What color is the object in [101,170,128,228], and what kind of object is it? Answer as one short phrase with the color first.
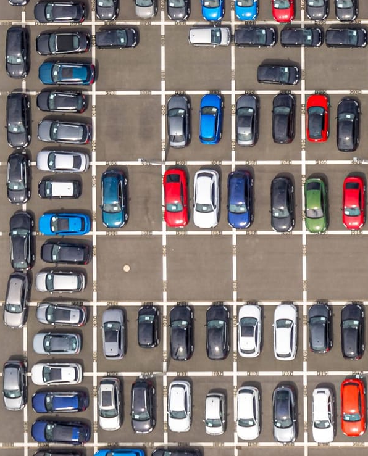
blue car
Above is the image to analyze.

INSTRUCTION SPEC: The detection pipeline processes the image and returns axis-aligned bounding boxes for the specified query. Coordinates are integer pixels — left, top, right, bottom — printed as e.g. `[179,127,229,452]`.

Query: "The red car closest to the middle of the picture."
[162,169,189,228]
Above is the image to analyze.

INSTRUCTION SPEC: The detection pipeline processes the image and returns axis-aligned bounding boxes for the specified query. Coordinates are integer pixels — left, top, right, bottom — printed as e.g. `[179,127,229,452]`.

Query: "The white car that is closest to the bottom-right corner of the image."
[309,387,336,442]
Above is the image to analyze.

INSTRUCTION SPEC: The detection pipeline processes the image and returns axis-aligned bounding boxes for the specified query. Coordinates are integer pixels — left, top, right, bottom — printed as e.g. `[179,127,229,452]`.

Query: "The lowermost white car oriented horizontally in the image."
[32,362,82,387]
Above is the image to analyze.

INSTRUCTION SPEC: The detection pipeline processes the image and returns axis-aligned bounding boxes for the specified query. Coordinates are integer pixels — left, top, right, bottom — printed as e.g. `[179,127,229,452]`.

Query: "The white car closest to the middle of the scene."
[192,170,219,228]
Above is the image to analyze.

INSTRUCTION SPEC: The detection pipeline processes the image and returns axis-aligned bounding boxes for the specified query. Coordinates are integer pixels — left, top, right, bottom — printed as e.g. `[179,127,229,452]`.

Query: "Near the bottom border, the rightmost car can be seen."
[339,377,366,436]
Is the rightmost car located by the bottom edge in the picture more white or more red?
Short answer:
red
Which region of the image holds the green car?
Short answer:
right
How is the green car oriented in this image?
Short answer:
vertically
